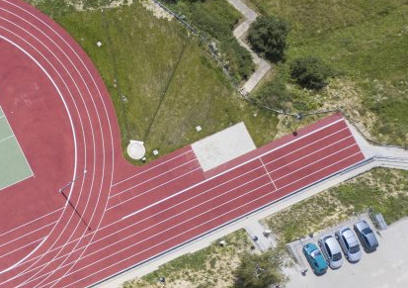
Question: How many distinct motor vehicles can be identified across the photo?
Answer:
four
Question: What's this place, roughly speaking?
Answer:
sports ground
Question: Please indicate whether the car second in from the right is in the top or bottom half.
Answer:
bottom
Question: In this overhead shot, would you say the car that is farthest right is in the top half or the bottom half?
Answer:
bottom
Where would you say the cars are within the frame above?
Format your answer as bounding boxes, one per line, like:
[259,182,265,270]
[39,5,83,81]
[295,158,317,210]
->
[335,227,363,261]
[301,242,329,277]
[317,234,344,268]
[352,218,381,253]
